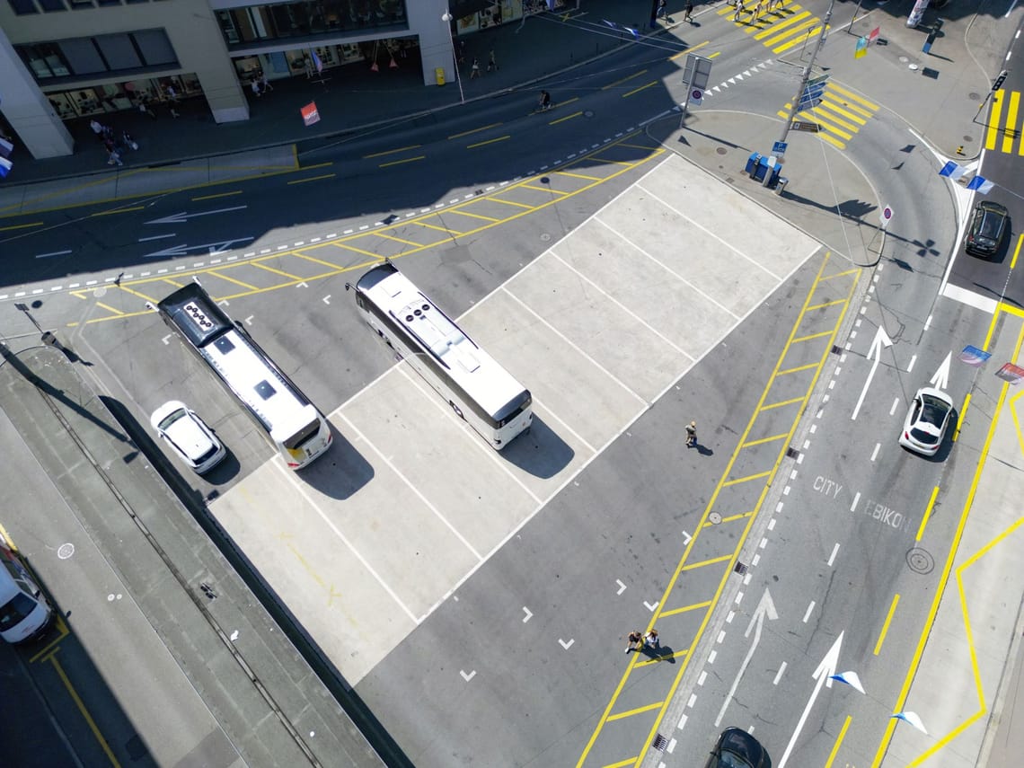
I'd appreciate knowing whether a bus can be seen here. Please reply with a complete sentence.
Yes, there is a bus in the image.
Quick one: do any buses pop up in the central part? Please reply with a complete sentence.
Yes, you'll find a bus in the central part.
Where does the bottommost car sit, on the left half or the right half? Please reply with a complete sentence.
The bottommost car sits on the right side.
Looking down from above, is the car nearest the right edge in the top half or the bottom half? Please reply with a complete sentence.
The car nearest the right edge is in the top half of the image.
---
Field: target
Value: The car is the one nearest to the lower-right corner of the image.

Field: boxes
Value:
[706,726,757,768]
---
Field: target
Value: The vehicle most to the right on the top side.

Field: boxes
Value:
[960,203,1009,264]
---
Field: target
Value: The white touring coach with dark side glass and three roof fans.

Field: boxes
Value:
[342,253,530,446]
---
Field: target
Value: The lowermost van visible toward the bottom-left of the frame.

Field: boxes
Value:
[0,540,54,647]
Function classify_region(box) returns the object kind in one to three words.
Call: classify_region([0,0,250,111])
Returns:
building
